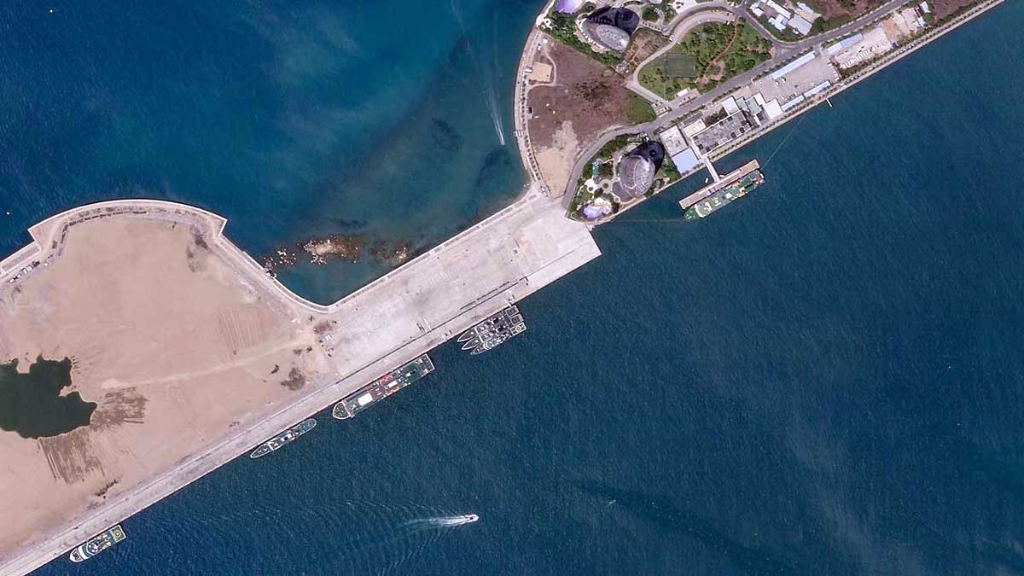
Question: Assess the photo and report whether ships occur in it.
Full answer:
Yes, the image includes a ship.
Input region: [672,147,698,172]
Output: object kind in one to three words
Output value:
building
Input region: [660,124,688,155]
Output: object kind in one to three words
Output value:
building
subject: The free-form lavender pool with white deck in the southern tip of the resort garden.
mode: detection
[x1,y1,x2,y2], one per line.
[581,197,612,219]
